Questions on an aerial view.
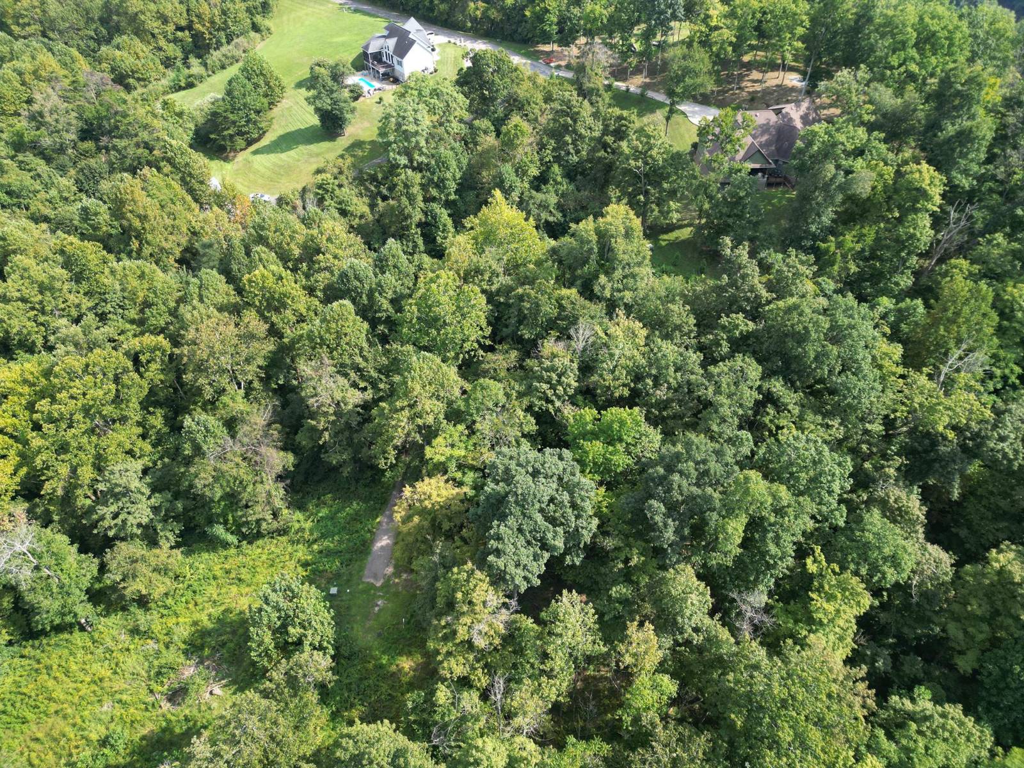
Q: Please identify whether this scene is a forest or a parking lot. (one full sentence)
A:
The area seen from above is a forest.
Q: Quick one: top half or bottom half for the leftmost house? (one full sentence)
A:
It is in the top half that the leftmost house appears.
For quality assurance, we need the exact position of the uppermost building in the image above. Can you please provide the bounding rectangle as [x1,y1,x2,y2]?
[356,17,433,83]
